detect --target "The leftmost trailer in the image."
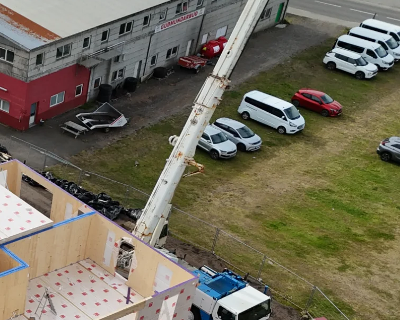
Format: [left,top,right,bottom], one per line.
[74,93,125,130]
